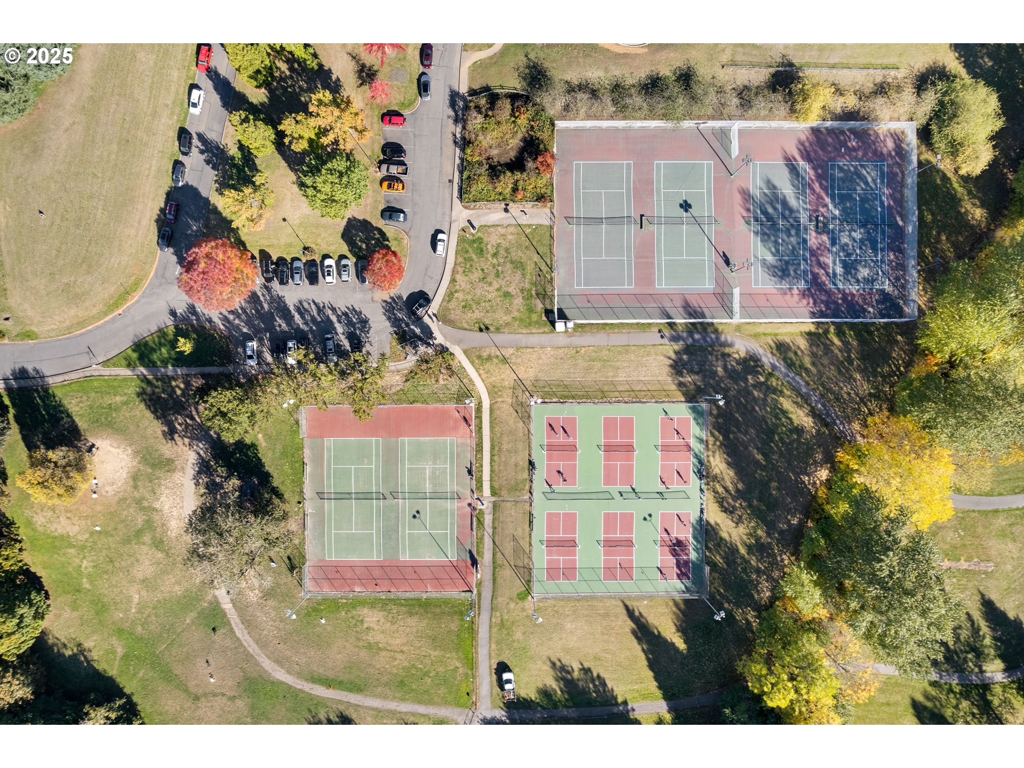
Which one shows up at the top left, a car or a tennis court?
car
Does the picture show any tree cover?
Yes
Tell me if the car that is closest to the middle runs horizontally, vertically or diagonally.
diagonally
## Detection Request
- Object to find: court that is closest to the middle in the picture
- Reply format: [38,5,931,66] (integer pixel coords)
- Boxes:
[542,416,581,486]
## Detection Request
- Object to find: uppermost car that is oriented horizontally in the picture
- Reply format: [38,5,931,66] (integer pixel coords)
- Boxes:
[382,115,408,127]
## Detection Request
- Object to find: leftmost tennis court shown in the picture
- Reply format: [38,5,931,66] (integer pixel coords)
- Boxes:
[325,438,382,560]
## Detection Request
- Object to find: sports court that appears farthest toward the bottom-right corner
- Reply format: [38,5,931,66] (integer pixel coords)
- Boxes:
[657,511,695,581]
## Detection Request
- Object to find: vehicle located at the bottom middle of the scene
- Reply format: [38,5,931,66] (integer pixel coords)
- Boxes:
[502,670,515,704]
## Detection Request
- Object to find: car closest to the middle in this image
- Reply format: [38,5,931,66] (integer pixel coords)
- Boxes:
[409,294,433,317]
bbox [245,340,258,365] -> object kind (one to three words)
vehicle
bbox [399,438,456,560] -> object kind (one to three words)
tennis court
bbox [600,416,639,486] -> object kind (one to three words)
sports court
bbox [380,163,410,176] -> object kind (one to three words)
vehicle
